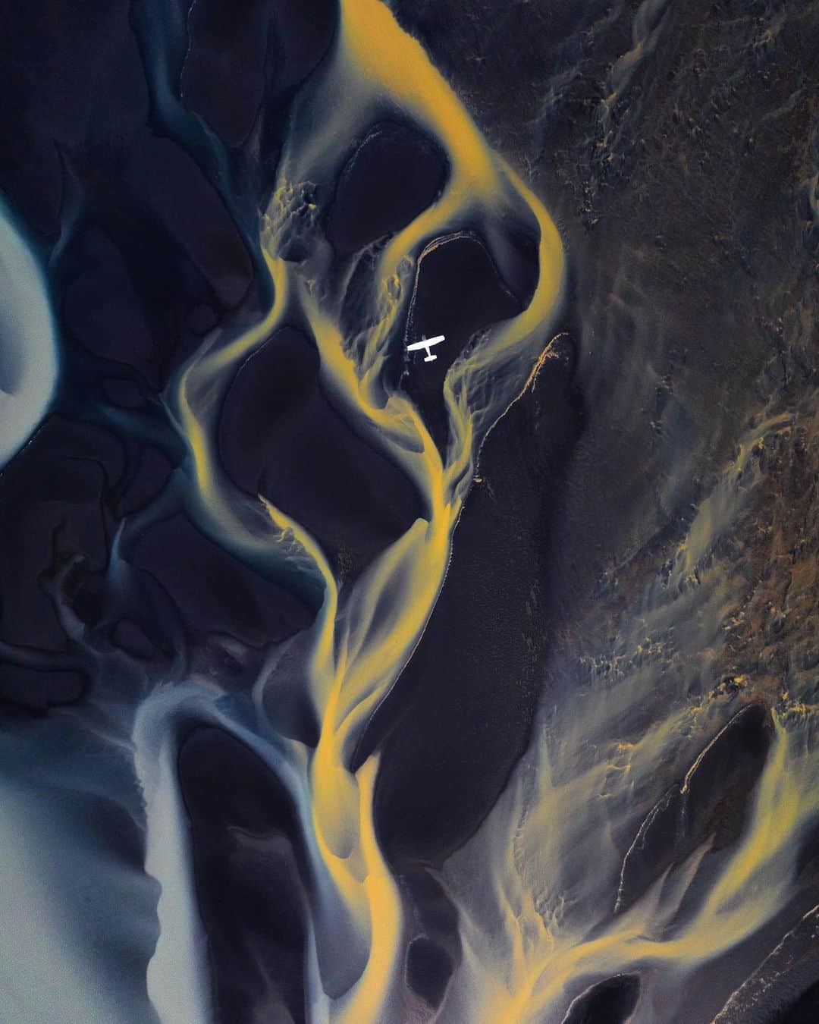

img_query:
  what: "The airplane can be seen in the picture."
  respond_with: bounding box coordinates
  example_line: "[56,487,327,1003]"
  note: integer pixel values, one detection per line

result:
[407,337,446,366]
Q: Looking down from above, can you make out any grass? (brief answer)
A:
No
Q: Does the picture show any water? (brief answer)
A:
Yes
